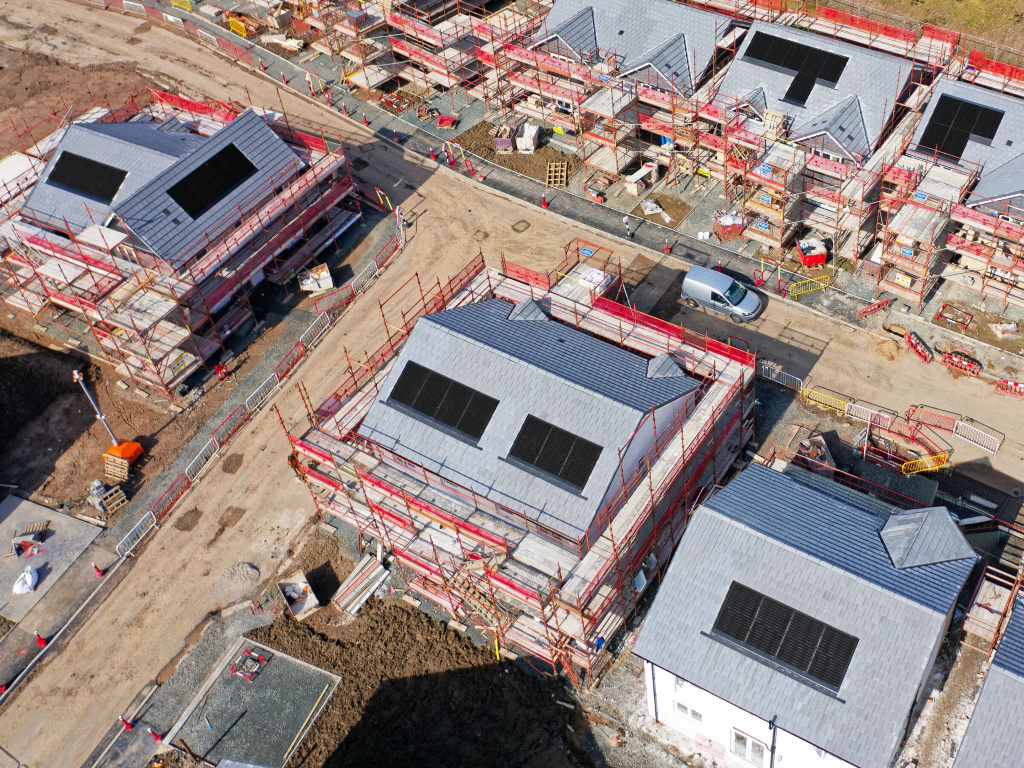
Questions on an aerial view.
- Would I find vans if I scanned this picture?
Yes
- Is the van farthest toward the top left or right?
right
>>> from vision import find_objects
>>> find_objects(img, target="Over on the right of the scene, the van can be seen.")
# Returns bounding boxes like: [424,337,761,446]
[679,262,766,324]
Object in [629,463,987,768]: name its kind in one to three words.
house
